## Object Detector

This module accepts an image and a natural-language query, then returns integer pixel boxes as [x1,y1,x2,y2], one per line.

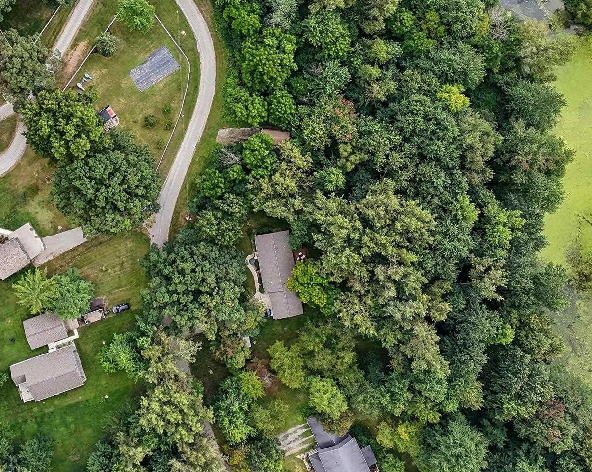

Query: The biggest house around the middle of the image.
[254,229,308,320]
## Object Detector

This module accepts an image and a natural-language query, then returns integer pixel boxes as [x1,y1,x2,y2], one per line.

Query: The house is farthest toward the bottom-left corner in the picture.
[10,344,84,404]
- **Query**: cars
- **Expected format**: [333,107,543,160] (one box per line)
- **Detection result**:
[261,304,273,322]
[113,303,129,314]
